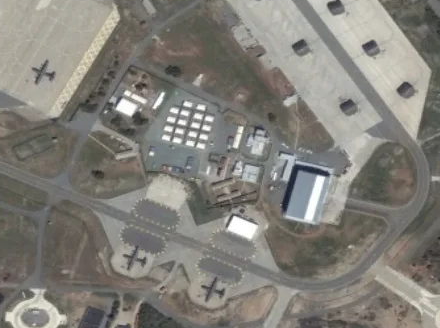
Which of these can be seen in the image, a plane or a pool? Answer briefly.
plane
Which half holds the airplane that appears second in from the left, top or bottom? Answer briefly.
bottom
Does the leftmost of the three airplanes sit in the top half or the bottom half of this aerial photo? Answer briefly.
top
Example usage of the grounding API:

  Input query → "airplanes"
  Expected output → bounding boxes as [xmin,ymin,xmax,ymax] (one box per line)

[33,59,53,84]
[124,244,145,269]
[202,276,223,301]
